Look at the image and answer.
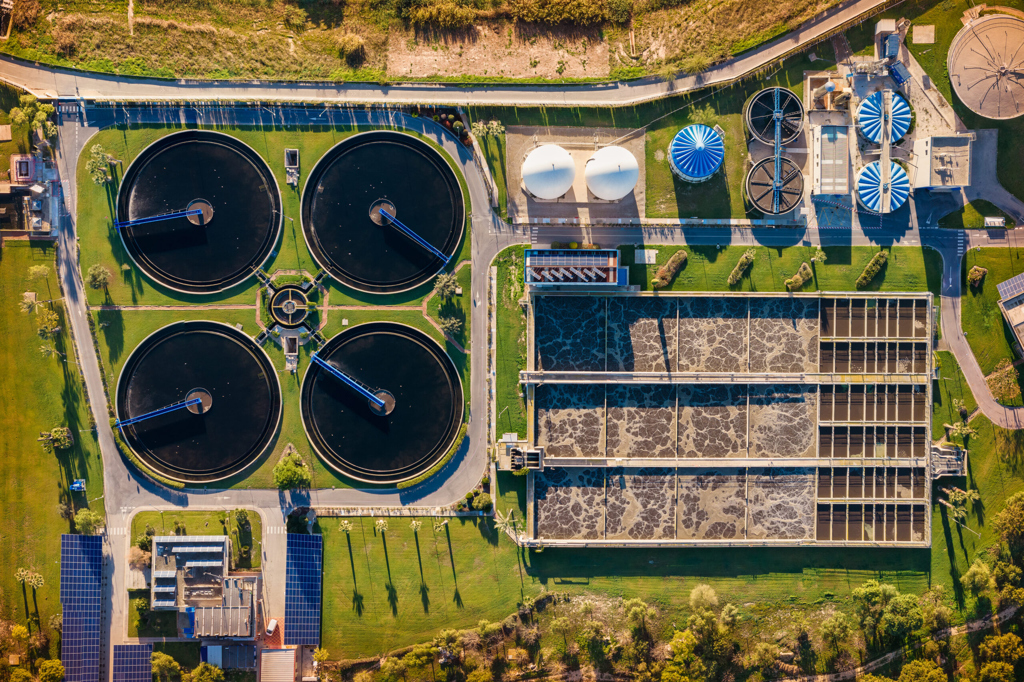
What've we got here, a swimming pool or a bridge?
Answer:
bridge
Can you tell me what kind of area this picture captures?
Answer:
industrial area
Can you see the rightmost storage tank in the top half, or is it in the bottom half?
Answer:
top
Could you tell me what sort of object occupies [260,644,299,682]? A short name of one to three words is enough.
shed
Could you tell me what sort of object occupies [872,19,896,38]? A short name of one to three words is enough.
shed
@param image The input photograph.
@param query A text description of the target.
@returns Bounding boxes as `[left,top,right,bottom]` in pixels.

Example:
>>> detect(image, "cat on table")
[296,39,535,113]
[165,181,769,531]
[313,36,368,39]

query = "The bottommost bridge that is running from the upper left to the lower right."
[308,350,385,407]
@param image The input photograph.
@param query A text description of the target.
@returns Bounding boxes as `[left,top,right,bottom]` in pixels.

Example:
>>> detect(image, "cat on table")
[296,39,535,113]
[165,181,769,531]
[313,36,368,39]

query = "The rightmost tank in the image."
[945,14,1024,121]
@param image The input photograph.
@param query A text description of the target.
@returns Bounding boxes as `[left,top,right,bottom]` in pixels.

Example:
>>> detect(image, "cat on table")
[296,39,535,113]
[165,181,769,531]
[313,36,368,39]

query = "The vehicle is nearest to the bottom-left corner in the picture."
[262,617,280,638]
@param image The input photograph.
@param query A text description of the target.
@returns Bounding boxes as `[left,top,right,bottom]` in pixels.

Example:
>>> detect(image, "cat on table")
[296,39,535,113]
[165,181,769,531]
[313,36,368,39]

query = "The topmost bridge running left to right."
[112,207,202,234]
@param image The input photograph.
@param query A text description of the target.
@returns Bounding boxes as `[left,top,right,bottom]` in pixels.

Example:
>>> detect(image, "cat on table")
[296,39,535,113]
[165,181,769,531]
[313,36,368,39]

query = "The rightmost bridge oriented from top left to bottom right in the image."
[378,207,453,268]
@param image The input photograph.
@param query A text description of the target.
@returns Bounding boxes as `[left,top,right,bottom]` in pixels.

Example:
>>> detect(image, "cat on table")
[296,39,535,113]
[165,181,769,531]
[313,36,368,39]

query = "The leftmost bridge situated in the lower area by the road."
[113,398,202,433]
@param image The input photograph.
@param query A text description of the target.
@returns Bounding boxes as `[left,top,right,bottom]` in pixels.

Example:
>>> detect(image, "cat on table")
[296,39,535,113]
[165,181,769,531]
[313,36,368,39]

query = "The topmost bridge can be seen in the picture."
[769,84,781,214]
